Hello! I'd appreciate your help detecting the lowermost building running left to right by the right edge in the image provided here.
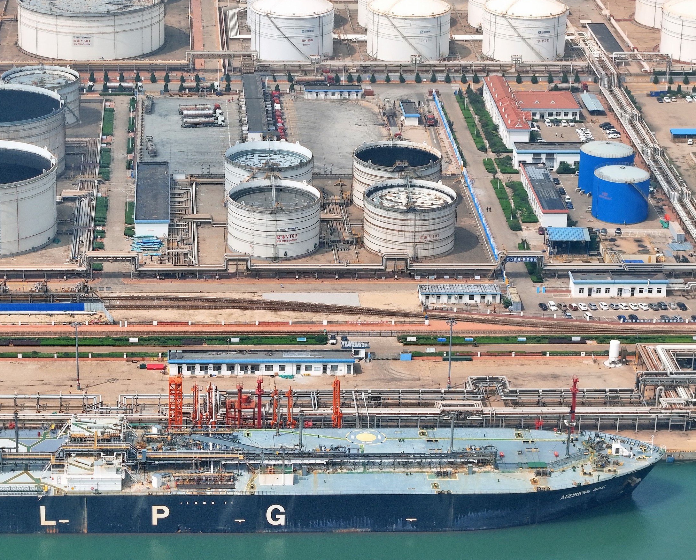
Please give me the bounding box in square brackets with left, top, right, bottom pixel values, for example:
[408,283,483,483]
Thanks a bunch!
[568,271,670,299]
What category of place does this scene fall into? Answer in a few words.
industrial area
